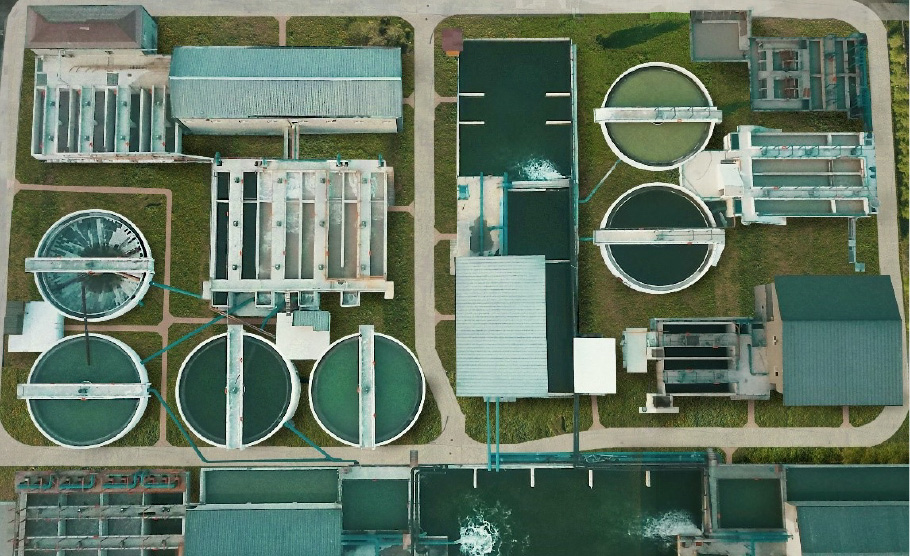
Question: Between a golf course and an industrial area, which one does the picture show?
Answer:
industrial area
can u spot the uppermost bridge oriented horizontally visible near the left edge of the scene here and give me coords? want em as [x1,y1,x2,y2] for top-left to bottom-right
[23,258,156,273]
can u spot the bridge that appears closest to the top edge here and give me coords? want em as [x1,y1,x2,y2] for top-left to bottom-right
[593,107,723,126]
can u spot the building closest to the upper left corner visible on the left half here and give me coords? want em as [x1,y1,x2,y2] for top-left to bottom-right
[25,4,154,54]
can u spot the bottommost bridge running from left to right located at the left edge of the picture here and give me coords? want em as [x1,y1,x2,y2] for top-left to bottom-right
[13,383,151,399]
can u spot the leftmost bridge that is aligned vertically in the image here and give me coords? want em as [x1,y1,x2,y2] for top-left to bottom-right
[223,325,247,449]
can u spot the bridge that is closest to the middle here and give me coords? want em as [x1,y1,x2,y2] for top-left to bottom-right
[358,325,376,449]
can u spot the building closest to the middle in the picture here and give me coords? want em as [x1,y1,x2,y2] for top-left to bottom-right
[450,240,547,397]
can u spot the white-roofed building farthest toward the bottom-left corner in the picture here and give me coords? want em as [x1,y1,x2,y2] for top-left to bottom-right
[4,302,71,352]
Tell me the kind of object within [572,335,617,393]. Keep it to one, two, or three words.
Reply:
shed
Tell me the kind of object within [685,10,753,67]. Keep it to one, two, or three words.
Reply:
storage tank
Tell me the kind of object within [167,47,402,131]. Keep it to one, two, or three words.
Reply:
building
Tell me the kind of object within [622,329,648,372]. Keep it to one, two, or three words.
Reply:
shed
